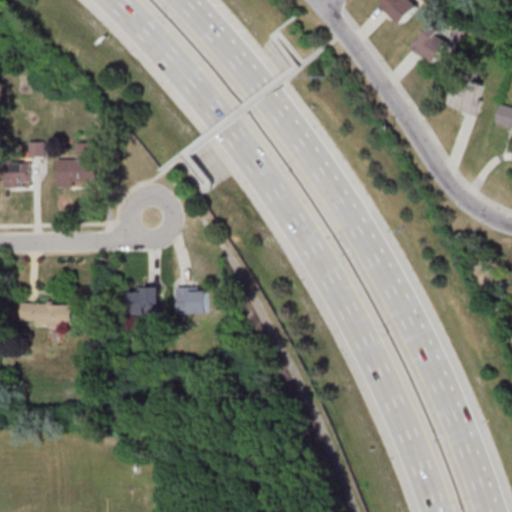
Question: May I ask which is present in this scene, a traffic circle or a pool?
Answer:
traffic circle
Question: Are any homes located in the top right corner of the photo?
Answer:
Yes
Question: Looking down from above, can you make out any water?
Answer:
No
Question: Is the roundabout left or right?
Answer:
left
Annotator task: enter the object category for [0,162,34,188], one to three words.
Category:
house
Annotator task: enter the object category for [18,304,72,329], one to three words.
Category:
house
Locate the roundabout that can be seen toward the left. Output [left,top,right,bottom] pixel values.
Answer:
[120,185,184,248]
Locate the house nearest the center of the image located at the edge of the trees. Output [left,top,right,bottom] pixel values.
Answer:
[174,286,212,314]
